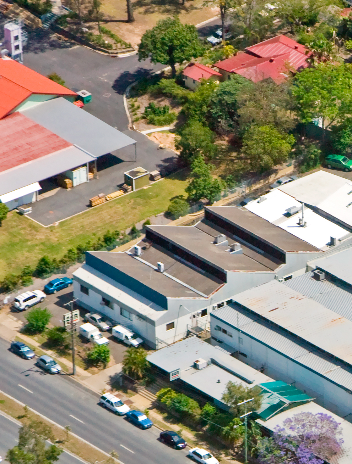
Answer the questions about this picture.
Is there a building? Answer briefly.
Yes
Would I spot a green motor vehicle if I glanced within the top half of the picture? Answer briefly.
Yes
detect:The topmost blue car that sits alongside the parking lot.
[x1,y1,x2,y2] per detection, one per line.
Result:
[43,278,71,295]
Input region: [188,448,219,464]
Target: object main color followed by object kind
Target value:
white car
